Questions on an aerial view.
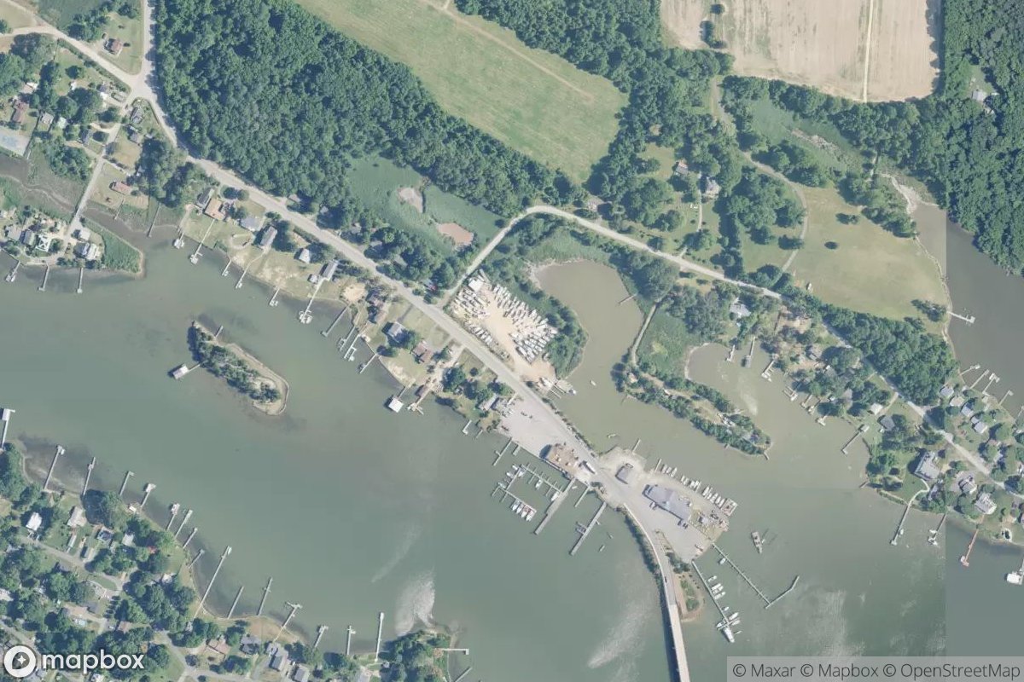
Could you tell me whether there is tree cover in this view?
Yes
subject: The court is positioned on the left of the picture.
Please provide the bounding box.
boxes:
[0,130,29,156]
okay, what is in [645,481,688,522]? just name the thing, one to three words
building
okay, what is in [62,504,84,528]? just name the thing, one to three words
house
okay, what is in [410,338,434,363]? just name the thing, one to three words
house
